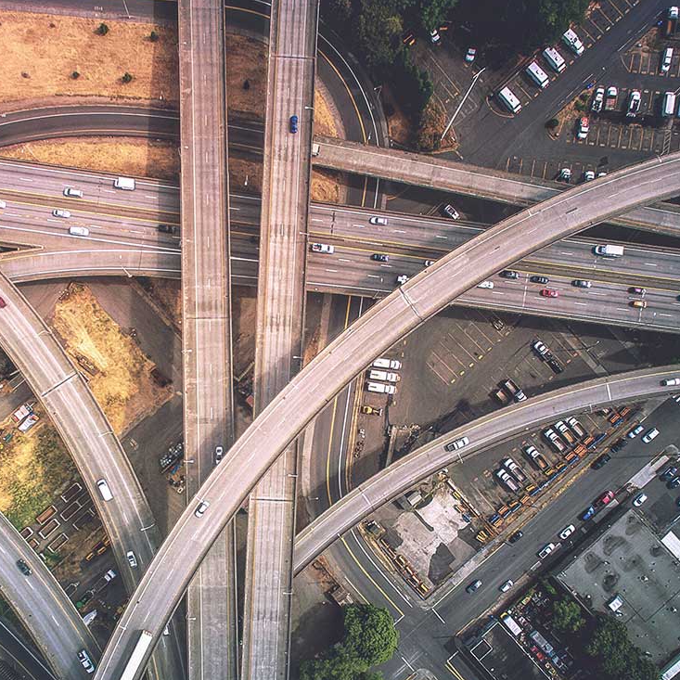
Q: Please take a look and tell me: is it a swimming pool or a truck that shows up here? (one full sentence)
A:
It is a truck that can be seen here.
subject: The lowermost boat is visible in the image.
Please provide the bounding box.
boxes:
[83,609,98,627]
